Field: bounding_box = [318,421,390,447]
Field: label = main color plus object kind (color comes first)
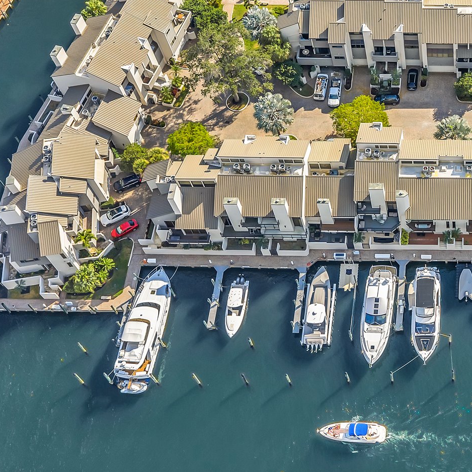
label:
white boat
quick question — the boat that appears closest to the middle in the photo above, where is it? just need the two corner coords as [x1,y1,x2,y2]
[226,277,250,338]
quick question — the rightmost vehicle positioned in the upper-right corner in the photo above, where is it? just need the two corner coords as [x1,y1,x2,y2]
[407,68,419,91]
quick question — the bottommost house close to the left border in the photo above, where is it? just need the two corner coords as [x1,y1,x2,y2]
[8,214,78,279]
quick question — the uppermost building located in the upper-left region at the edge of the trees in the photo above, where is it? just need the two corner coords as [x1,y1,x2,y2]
[50,0,191,105]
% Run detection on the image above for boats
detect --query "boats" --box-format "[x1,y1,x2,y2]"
[226,277,250,338]
[407,267,442,366]
[318,421,390,447]
[362,266,396,367]
[460,268,472,306]
[118,382,147,395]
[114,264,166,389]
[306,265,329,351]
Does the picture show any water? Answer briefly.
Yes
